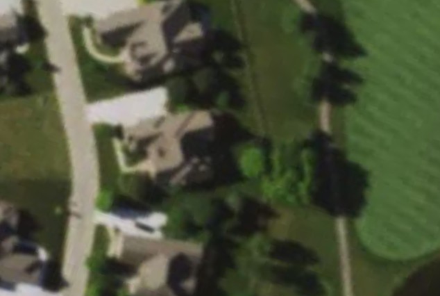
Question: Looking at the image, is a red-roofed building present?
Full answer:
No, the picture doesn't show any red-roofed building.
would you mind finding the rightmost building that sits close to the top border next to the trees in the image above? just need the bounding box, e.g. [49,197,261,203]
[90,0,211,85]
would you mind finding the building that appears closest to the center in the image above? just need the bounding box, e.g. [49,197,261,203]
[109,101,227,194]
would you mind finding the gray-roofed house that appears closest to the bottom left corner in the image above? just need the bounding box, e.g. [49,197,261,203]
[0,215,41,292]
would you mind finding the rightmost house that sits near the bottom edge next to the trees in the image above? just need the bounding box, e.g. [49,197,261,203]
[111,228,204,296]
